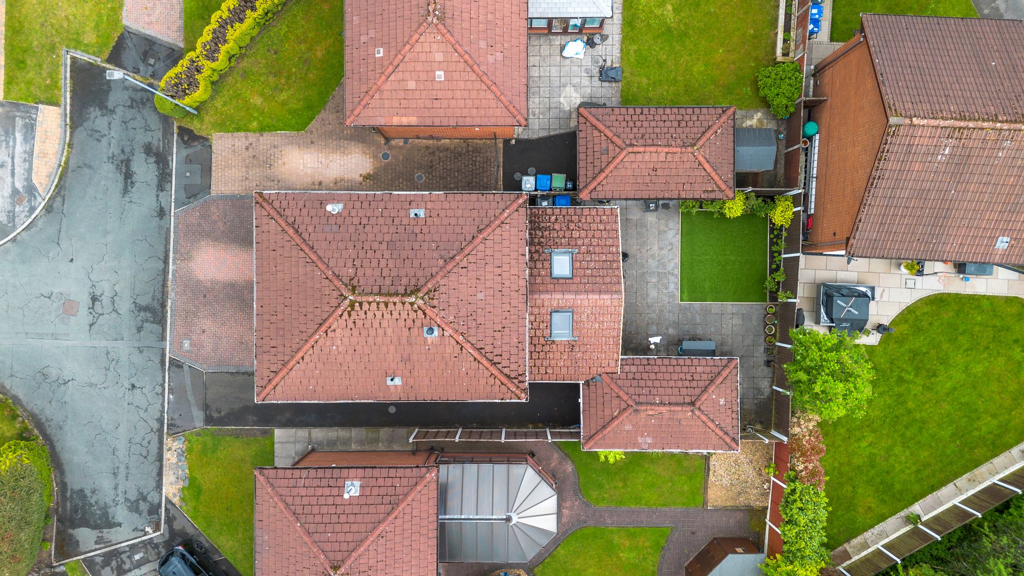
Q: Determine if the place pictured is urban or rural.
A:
urban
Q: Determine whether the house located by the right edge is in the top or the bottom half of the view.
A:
top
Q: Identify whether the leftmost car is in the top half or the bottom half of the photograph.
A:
bottom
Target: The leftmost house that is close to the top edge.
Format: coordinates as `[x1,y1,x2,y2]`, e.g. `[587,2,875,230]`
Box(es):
[343,0,528,140]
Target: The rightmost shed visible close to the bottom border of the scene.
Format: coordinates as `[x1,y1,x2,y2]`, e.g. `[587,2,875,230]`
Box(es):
[685,537,766,576]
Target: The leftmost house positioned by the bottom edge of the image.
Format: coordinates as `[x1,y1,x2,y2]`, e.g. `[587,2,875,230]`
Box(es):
[253,447,440,576]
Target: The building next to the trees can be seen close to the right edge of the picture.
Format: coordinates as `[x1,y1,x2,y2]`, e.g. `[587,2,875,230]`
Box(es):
[802,13,1024,268]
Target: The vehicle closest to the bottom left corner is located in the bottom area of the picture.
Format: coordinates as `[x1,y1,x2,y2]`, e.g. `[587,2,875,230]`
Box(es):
[144,541,214,576]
